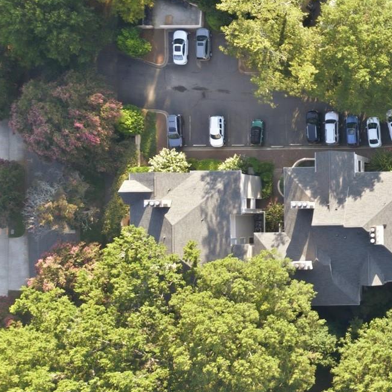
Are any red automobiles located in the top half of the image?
No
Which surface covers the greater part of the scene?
trees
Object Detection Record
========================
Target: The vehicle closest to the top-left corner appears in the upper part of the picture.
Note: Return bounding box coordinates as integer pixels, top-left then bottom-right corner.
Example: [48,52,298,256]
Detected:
[171,30,189,65]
